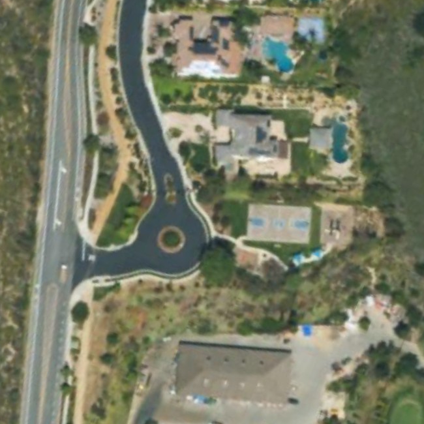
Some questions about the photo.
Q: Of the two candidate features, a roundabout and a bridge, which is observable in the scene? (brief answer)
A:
roundabout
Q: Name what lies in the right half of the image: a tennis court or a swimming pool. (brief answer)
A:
swimming pool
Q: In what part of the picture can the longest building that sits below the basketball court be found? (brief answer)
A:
bottom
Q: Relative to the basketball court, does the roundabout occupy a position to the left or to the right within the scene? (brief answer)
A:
left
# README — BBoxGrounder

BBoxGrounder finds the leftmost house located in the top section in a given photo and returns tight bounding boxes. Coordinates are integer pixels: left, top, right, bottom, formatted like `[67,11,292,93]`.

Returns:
[170,10,244,77]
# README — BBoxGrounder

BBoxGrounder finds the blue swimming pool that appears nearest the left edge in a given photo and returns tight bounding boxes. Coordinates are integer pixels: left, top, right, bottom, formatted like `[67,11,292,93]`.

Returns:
[263,37,295,73]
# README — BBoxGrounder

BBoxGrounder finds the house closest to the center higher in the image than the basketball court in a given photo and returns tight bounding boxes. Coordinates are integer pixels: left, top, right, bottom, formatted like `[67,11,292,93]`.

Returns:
[216,109,288,164]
